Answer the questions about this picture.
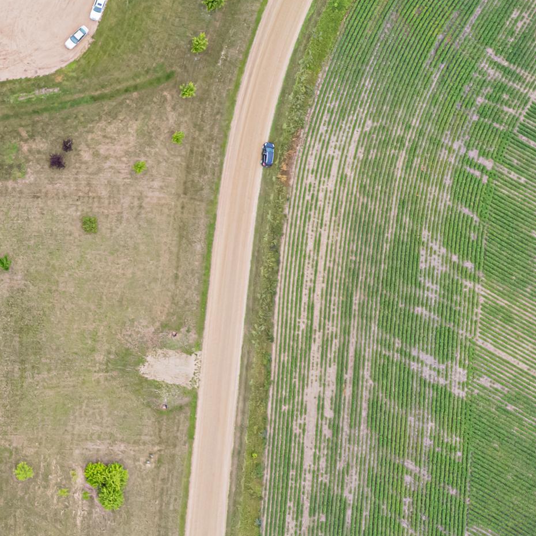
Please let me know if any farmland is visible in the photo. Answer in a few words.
Yes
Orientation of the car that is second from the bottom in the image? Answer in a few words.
on a diagonal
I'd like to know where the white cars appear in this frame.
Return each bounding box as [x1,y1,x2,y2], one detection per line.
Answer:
[90,0,105,21]
[65,24,90,50]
